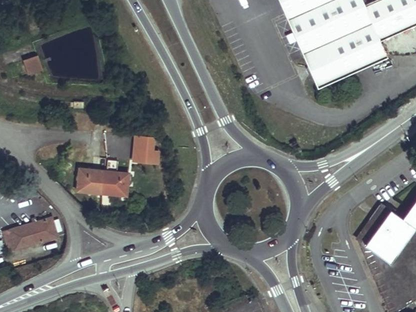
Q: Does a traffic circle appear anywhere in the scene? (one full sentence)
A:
Yes, there is a traffic circle in the image.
